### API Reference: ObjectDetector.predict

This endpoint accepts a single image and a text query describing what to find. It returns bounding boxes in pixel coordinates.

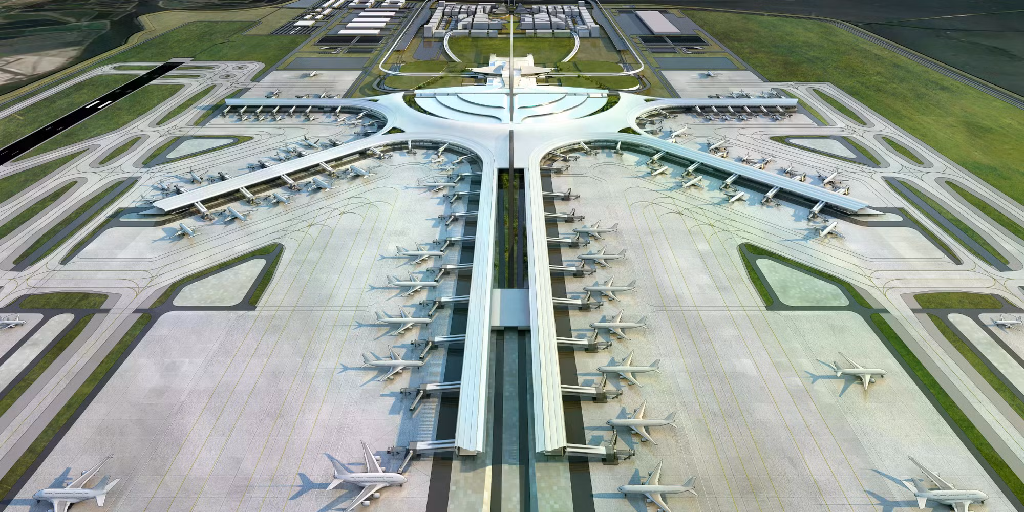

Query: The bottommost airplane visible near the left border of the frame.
[33,454,119,512]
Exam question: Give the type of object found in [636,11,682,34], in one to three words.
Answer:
hangar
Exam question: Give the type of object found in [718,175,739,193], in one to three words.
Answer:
jet bridge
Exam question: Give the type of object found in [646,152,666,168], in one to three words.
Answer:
jet bridge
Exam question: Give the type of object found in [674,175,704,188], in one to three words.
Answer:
airplane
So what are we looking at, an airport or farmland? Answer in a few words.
airport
